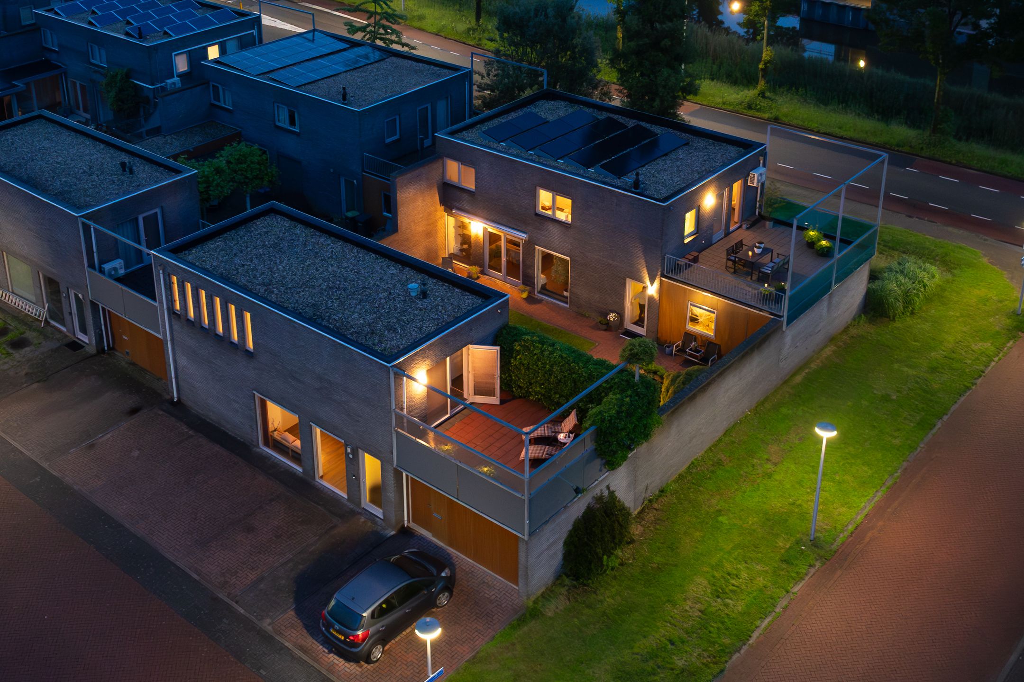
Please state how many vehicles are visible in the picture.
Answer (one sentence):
The photo contains exactly 1 vehicle.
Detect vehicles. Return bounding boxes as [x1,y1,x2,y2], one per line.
[312,555,451,664]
